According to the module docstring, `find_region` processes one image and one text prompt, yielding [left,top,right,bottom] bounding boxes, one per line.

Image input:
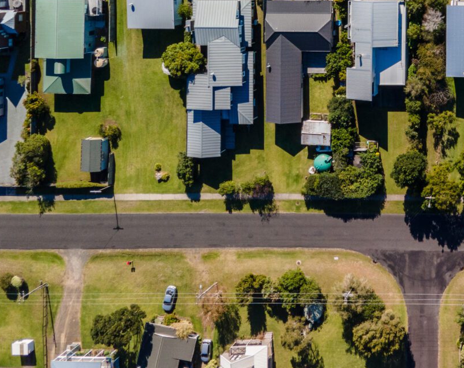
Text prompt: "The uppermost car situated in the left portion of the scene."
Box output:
[163,284,179,312]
